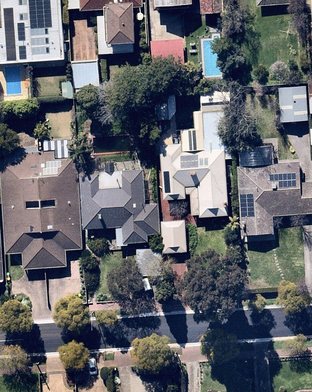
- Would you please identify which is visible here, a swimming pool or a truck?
swimming pool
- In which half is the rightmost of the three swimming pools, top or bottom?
top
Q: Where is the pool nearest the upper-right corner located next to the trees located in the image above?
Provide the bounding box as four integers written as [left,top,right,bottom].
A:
[202,34,224,77]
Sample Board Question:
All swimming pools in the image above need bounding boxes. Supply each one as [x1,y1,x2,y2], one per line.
[92,133,133,155]
[3,64,23,96]
[202,34,224,77]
